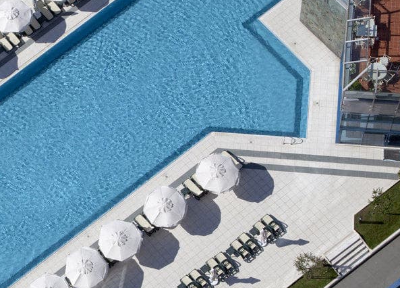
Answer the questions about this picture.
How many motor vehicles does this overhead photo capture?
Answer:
0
